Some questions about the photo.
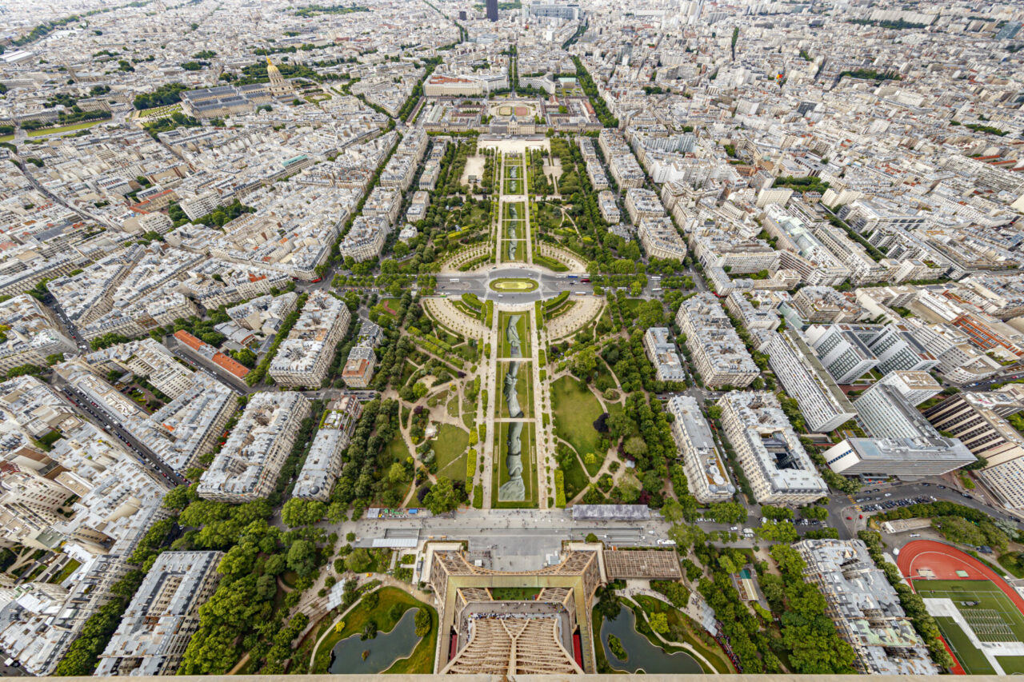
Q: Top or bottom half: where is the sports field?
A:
bottom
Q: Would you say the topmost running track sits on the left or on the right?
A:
right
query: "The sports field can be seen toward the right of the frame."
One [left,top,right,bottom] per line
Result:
[884,538,1024,674]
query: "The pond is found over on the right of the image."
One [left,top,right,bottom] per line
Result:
[602,610,702,674]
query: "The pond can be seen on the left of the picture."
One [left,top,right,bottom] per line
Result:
[329,608,419,674]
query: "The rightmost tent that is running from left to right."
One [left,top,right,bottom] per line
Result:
[572,506,650,520]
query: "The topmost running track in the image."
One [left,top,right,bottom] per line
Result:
[897,540,1024,614]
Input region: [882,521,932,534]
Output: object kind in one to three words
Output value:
building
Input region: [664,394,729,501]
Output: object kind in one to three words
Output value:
house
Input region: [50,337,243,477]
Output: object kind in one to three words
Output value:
building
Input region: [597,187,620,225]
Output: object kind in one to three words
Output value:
house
